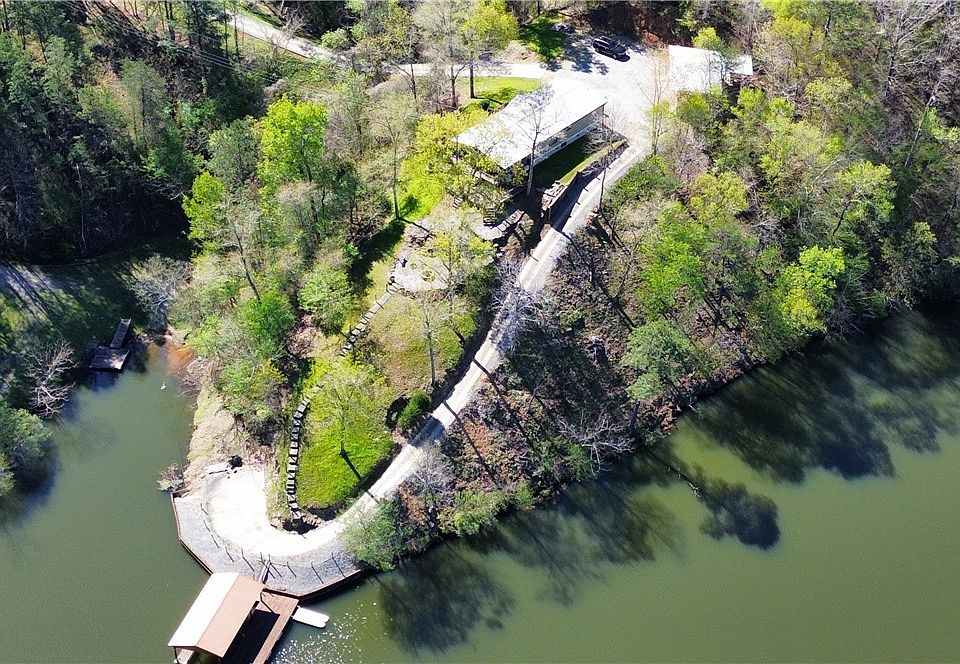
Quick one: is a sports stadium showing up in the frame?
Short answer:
No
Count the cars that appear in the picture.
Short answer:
1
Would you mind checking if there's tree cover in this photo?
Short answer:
Yes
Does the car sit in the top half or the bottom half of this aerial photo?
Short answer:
top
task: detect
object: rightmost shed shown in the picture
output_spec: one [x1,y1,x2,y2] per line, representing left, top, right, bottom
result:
[666,46,753,110]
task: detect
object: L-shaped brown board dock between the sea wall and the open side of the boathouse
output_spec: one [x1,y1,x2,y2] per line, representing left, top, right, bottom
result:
[252,592,298,664]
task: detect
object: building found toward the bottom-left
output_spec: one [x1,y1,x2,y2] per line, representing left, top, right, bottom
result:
[170,572,263,664]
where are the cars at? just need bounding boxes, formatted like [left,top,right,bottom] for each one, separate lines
[592,38,629,60]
